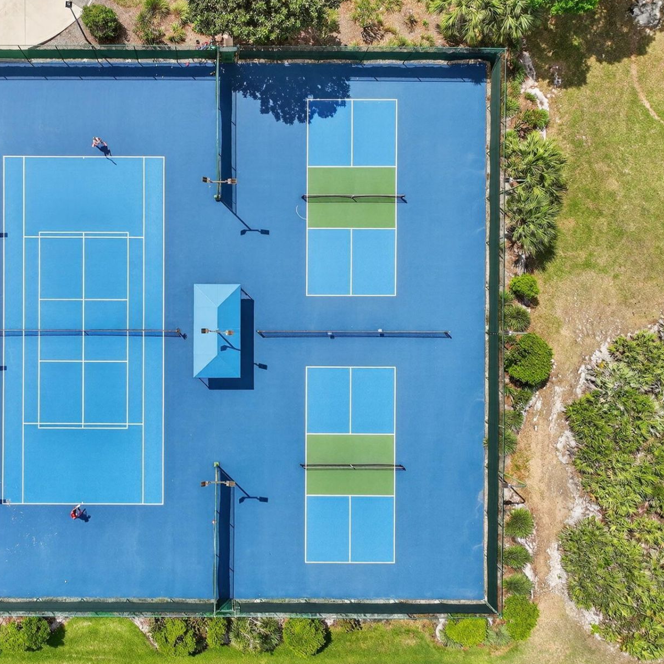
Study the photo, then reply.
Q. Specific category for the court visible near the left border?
tennis court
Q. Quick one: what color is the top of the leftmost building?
blue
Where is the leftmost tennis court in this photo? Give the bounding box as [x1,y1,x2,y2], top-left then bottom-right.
[2,155,165,505]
